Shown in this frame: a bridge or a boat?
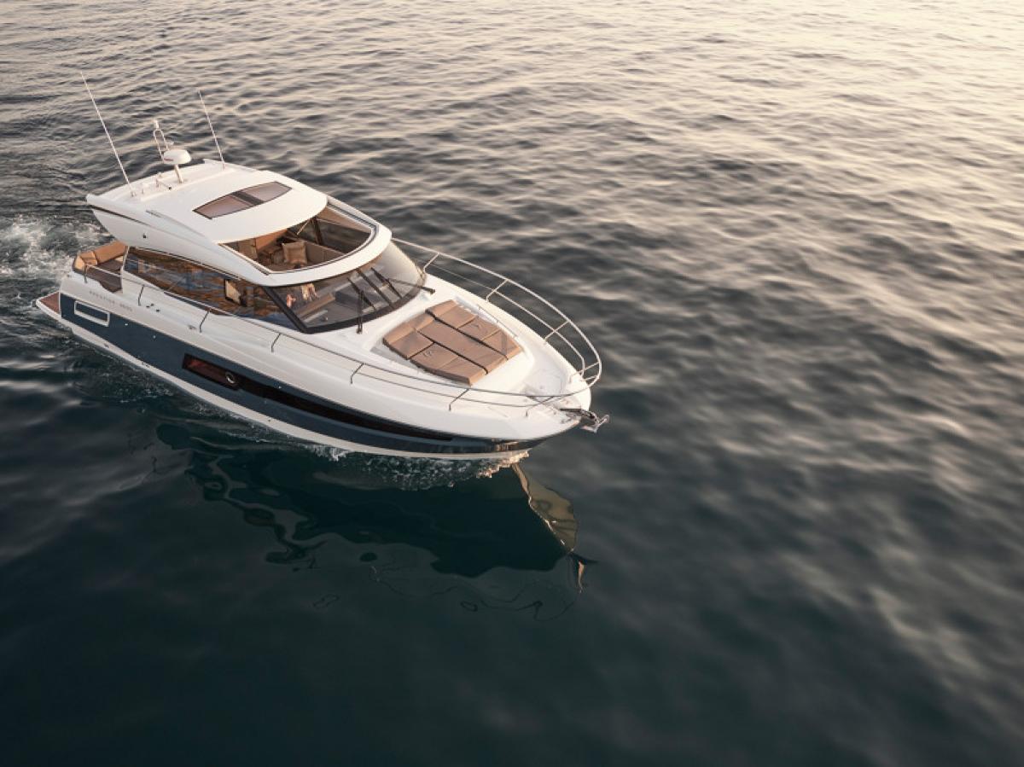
boat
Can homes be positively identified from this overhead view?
No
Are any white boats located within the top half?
Yes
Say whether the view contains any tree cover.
No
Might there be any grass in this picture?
No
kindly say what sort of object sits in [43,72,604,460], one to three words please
boat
